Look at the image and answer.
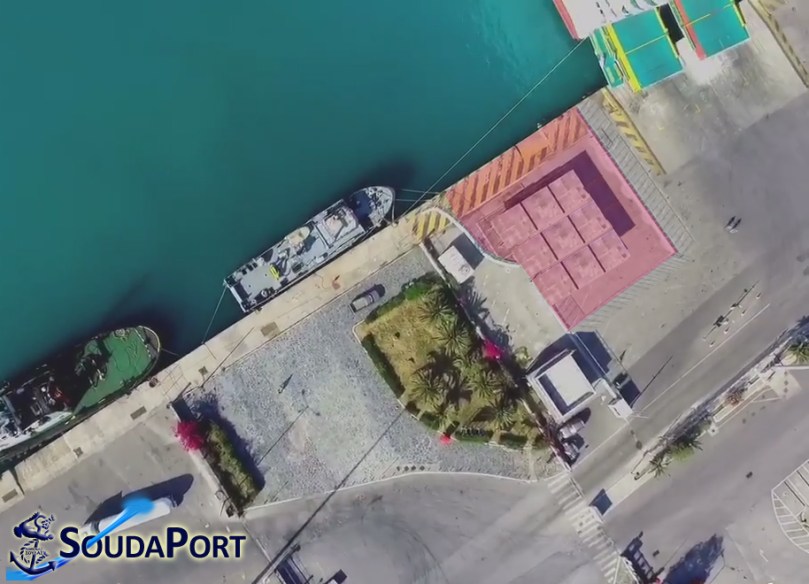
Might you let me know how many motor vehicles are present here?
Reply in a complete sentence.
In total, 4 motor vehicles can be seen.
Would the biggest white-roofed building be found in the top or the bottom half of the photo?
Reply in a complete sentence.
It is in the bottom half that the biggest white-roofed building appears.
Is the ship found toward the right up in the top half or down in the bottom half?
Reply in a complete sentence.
The ship found toward the right is in the top half of the image.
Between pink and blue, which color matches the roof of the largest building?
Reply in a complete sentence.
The color of the roof of the largest building is pink.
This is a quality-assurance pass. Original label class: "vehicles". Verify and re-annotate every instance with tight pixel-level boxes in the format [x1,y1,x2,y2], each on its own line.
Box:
[81,489,179,533]
[348,287,383,312]
[559,439,581,462]
[557,420,586,440]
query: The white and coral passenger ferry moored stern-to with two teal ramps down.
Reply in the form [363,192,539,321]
[555,0,750,93]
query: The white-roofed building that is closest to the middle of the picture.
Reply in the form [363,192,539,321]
[438,244,475,283]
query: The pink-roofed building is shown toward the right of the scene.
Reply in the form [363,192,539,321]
[480,170,630,321]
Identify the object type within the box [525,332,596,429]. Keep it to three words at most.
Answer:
building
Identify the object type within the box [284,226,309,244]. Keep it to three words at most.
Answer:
boat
